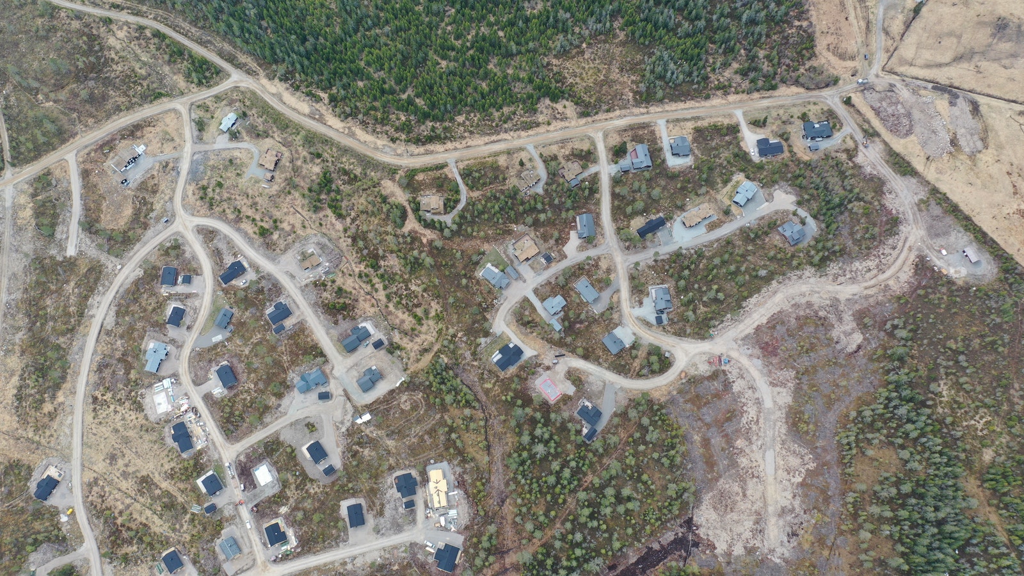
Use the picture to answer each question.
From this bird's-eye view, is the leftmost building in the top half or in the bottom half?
bottom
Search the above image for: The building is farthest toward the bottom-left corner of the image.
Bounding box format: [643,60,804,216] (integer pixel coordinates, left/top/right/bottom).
[35,465,65,502]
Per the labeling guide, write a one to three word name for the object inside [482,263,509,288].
building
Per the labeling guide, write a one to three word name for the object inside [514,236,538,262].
building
